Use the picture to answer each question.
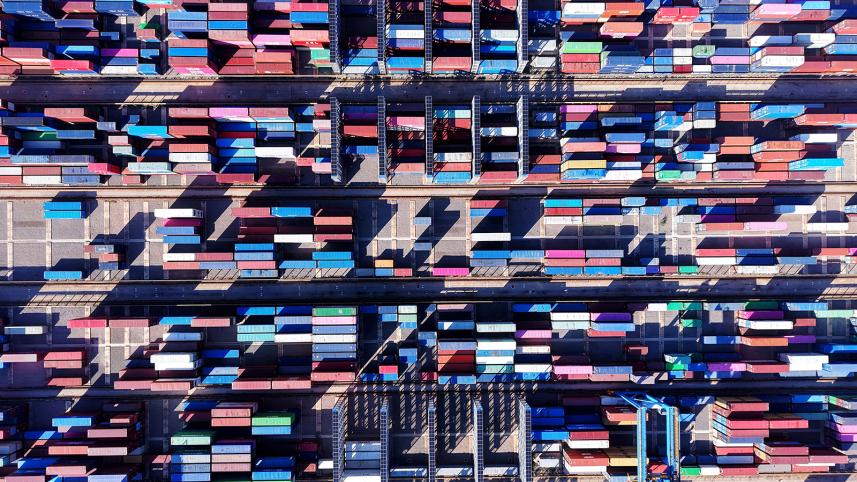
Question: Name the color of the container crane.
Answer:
blue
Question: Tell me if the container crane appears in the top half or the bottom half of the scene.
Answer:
bottom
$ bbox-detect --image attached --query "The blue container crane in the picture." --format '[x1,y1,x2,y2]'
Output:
[613,390,676,482]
